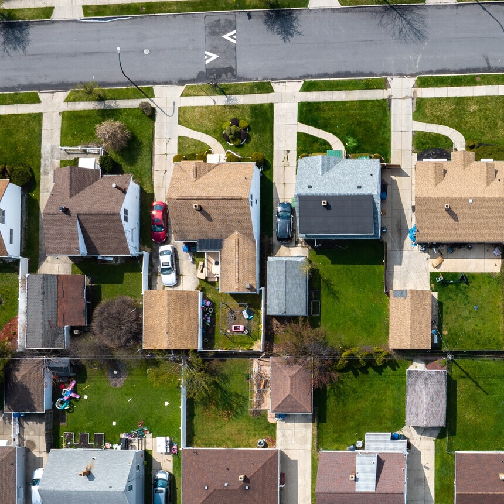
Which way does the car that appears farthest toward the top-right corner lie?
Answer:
up and down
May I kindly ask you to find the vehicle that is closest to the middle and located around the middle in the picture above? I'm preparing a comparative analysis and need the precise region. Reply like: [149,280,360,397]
[274,203,294,244]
